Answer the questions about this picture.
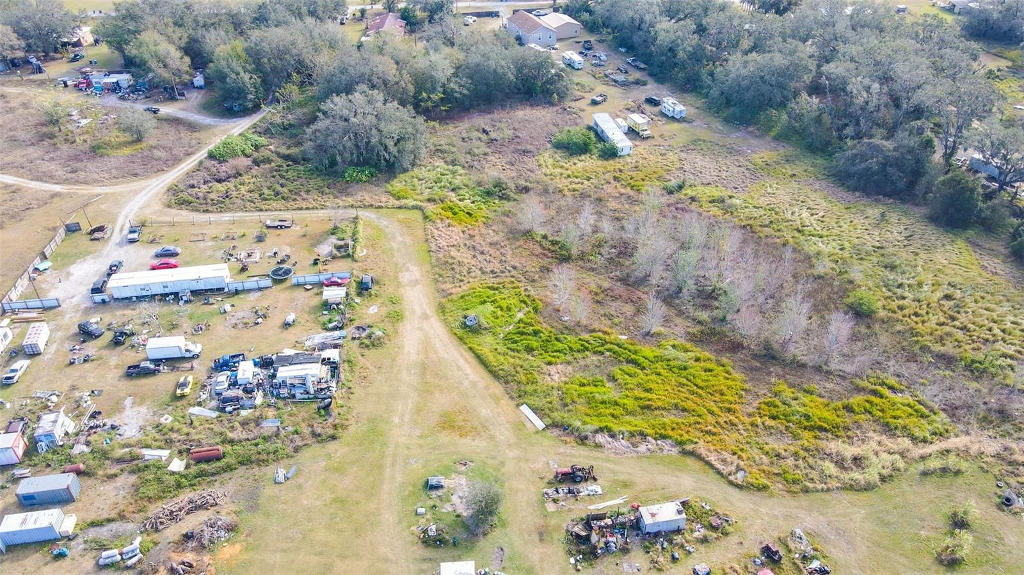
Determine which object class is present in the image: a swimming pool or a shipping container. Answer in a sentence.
Visible in the photo is a shipping container.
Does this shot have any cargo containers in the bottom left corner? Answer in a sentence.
Yes, the scene does show a cargo container in the bottom left corner.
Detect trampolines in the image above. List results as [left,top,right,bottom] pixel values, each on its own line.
[268,269,294,285]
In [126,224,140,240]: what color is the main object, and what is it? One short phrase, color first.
white vehicle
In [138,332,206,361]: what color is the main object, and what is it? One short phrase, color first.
white truck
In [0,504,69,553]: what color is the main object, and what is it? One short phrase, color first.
white shipping container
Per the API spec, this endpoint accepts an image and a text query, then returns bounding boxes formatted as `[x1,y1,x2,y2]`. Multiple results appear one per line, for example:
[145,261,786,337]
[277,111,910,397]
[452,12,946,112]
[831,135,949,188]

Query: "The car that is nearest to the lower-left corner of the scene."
[0,357,37,384]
